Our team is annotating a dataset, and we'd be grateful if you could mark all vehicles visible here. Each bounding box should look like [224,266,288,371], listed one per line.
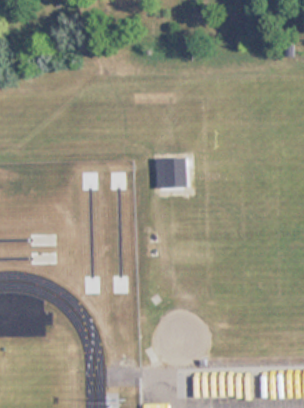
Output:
[227,372,234,399]
[219,372,226,399]
[269,372,276,399]
[286,372,293,398]
[144,403,170,408]
[236,372,243,400]
[245,374,252,400]
[260,372,268,399]
[194,372,200,399]
[210,372,218,399]
[278,372,285,399]
[202,372,209,399]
